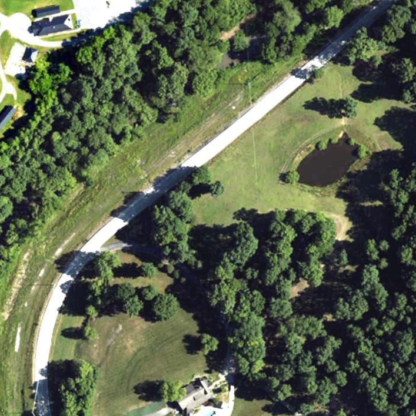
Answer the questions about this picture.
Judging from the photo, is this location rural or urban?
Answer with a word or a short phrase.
rural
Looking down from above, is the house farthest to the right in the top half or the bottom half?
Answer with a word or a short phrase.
bottom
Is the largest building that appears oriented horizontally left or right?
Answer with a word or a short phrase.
left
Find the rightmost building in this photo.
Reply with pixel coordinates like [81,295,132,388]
[180,383,213,411]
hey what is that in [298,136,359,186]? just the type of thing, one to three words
pond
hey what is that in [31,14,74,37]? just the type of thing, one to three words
building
